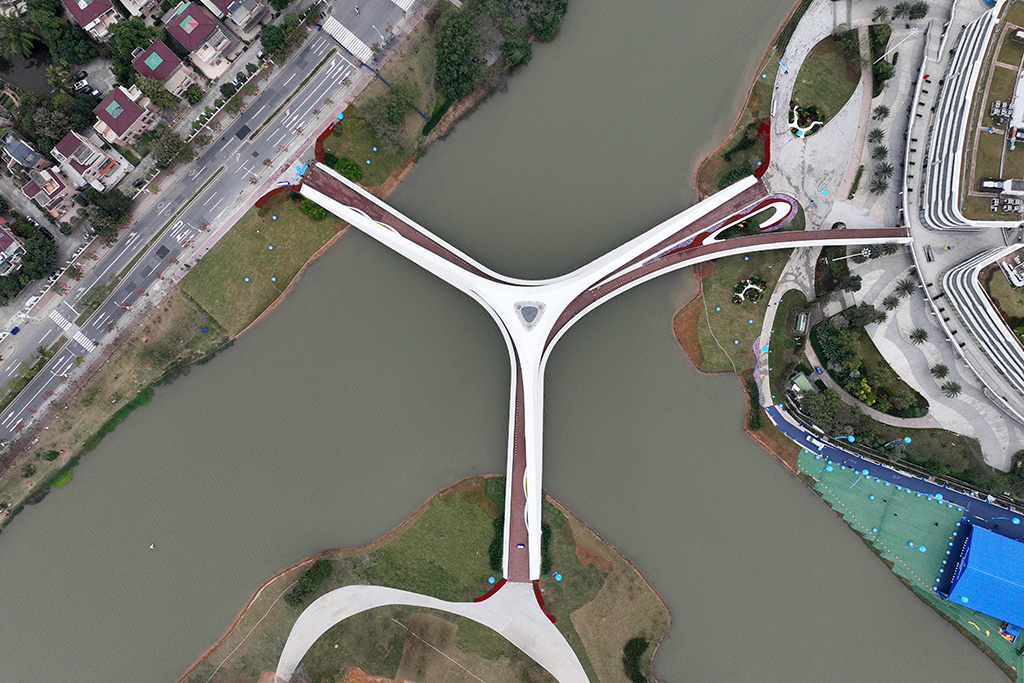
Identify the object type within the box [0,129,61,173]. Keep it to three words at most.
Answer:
house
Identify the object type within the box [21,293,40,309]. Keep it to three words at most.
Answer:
vehicle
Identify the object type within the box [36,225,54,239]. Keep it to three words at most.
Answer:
car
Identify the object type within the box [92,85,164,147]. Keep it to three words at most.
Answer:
house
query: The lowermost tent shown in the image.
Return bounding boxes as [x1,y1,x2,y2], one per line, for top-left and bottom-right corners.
[939,521,1024,626]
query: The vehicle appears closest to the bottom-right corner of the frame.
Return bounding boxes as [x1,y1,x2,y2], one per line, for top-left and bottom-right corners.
[807,435,827,450]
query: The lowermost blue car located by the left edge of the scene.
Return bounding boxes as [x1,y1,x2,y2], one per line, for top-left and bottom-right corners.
[7,325,21,337]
